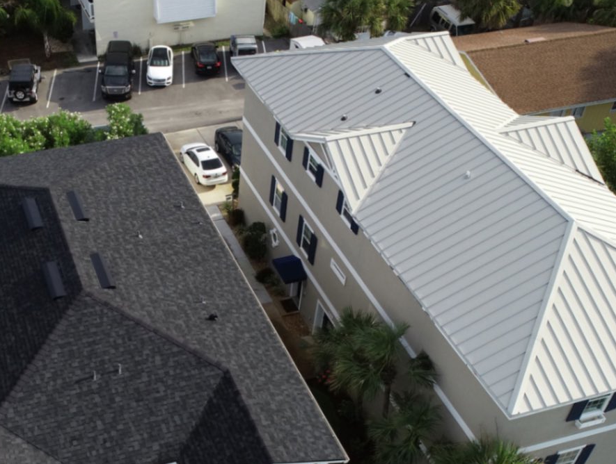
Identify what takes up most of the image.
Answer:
buildings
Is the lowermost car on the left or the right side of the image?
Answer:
left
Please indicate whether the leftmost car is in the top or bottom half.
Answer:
top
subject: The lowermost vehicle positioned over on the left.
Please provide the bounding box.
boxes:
[181,146,231,193]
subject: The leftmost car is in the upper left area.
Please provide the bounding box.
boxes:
[5,64,40,108]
